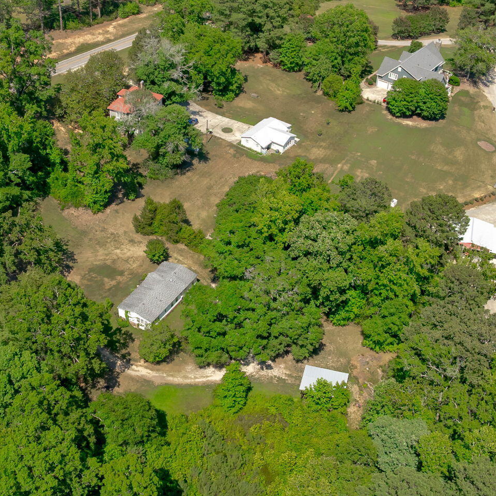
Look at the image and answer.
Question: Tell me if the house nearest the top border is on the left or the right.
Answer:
right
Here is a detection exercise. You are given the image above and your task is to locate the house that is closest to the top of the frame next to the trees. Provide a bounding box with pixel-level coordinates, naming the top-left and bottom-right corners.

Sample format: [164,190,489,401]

[376,34,459,94]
